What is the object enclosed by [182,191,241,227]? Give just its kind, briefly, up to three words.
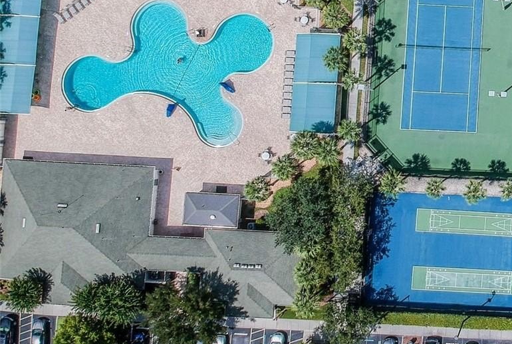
building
